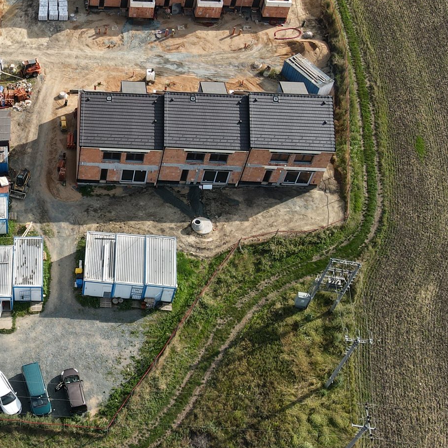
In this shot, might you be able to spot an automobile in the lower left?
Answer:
Yes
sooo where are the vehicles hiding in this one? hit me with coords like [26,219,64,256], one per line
[20,358,52,421]
[53,367,89,417]
[15,57,42,78]
[0,369,21,421]
[9,167,31,198]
